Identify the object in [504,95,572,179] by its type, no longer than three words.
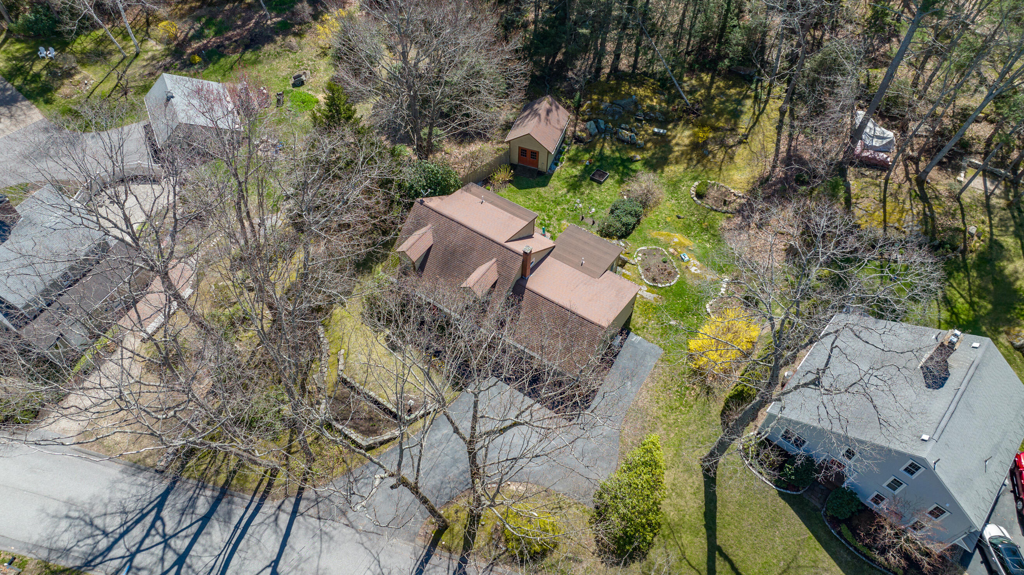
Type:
shed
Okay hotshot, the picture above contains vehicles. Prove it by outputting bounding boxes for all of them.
[980,524,1024,575]
[1011,455,1024,512]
